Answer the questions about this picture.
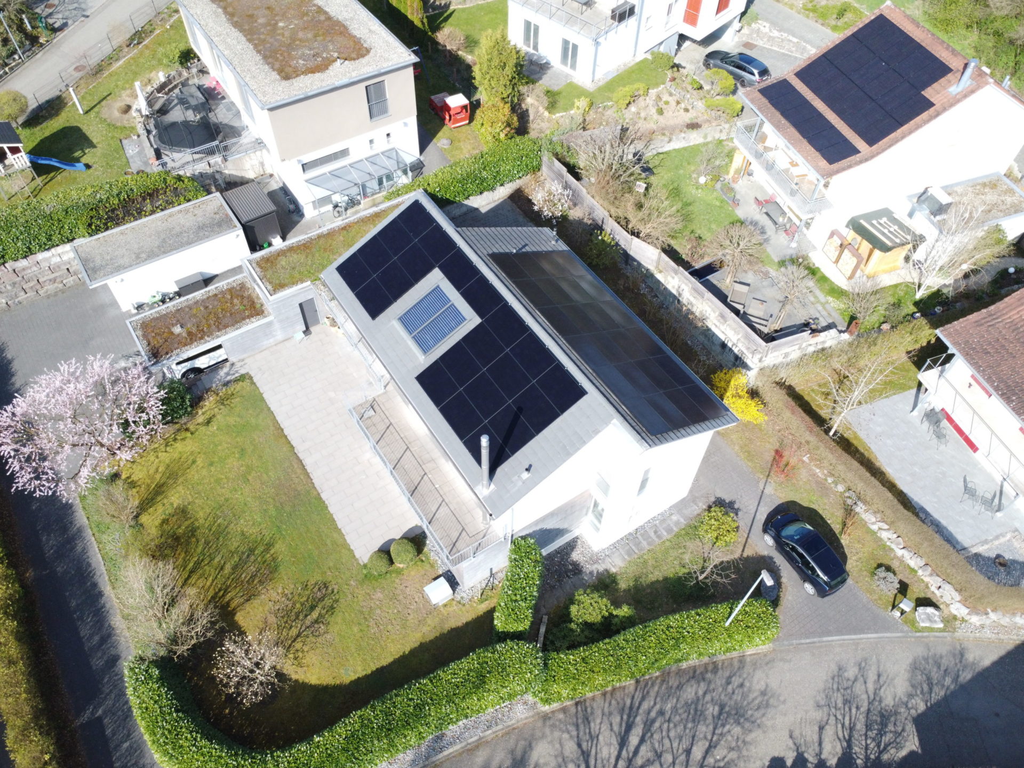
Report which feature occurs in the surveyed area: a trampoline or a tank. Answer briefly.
trampoline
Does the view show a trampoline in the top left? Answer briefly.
Yes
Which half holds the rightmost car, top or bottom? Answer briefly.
bottom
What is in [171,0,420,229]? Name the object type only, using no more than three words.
house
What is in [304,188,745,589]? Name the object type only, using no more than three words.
house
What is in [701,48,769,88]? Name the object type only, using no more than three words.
car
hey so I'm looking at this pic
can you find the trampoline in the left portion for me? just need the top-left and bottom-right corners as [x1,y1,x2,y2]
[142,91,226,165]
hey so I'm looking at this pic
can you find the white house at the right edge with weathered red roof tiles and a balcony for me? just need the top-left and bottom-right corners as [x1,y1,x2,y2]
[911,287,1024,520]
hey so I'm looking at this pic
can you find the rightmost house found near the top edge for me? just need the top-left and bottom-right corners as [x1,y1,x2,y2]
[728,1,1024,249]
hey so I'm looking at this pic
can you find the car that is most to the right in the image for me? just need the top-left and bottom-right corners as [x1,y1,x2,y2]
[761,510,854,600]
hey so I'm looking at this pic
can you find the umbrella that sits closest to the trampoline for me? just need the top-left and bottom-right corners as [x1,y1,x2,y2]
[133,81,151,118]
